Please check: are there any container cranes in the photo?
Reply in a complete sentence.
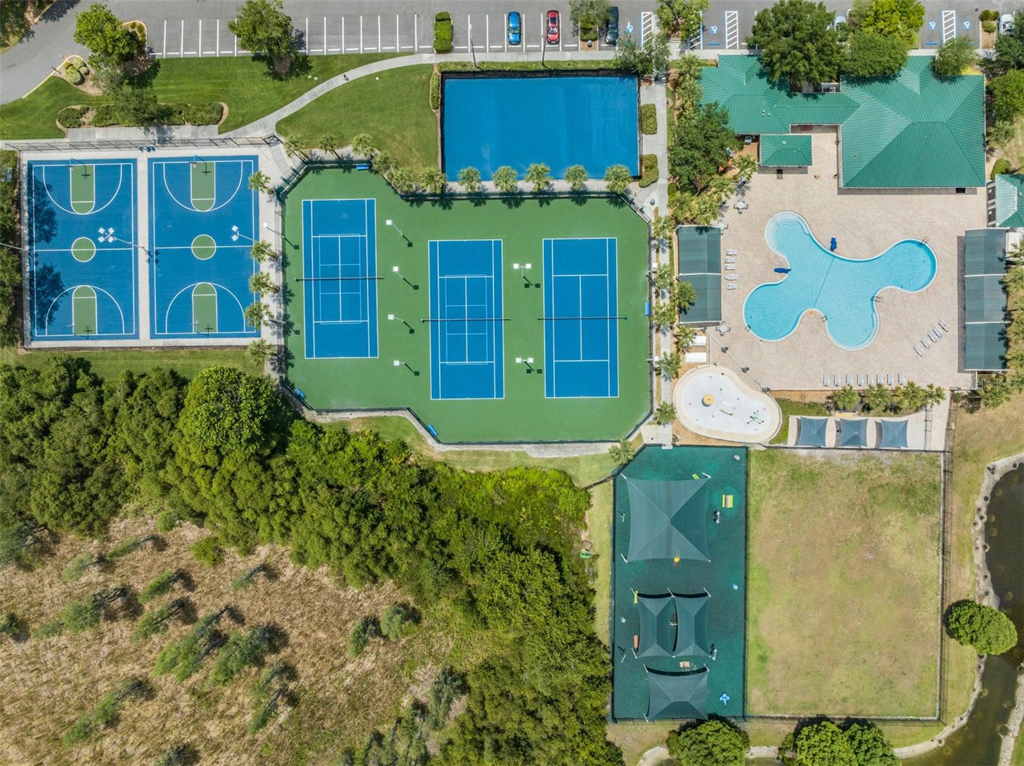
No, I can see no container crane in this picture.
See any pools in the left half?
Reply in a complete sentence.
No, the scene shows no pool in the left half.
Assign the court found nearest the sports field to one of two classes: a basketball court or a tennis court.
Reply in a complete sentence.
In the photo, the court found nearest the sports field shows up as a tennis court.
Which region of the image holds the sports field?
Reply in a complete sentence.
The sports field sits in the bottom right section of the image.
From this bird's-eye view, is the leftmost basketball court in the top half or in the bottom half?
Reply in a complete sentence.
Seen from above, the leftmost basketball court lies in the top half of the view.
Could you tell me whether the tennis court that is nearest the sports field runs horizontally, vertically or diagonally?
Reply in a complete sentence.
The tennis court that is nearest the sports field runs vertically in the image.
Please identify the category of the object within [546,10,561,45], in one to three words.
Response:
car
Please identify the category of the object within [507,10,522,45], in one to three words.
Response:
car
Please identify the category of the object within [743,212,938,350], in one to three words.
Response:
swimming pool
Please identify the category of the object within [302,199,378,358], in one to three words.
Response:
tennis court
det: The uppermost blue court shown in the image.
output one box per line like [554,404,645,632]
[440,65,643,182]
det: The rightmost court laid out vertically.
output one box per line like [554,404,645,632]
[543,238,619,398]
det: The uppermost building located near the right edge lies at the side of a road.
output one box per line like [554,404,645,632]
[700,54,986,190]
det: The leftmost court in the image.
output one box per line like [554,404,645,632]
[27,158,139,341]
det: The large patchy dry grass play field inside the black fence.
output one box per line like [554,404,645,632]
[750,450,943,717]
